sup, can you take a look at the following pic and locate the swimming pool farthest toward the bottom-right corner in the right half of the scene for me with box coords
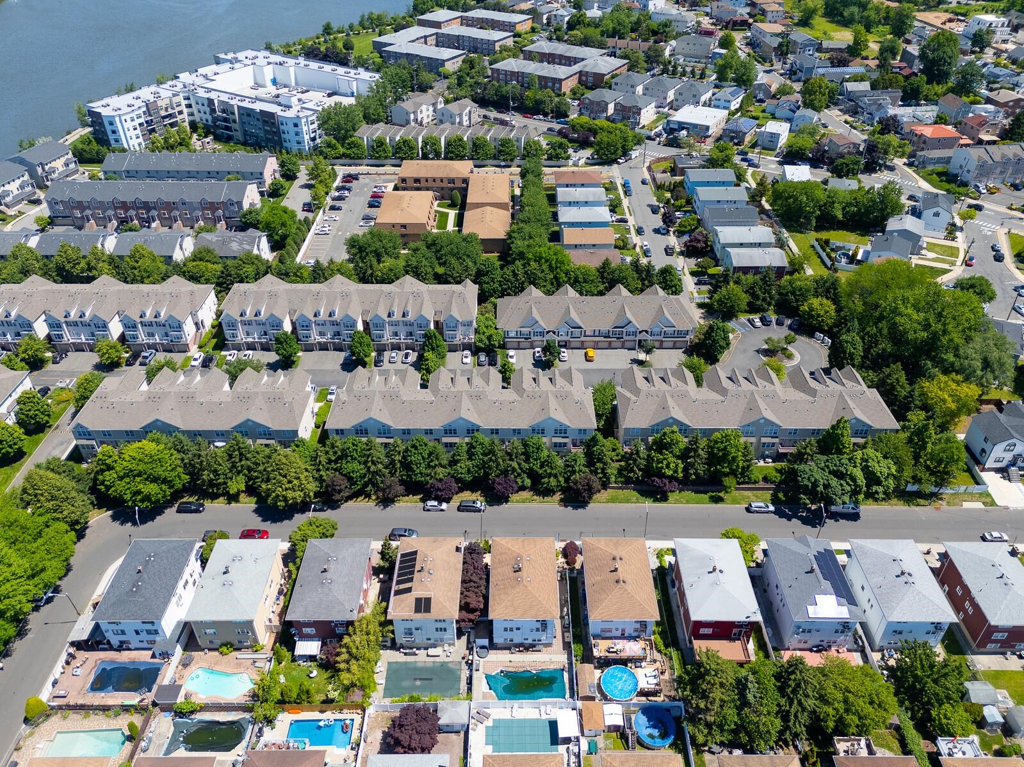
[630,705,681,753]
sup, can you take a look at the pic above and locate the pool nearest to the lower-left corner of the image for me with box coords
[37,726,129,762]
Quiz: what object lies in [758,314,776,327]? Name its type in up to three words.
vehicle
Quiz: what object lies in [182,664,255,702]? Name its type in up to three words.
swimming pool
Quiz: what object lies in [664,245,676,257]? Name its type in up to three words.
vehicle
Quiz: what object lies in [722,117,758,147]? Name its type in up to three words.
house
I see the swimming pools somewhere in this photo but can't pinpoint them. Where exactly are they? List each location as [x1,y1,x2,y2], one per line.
[483,715,563,757]
[37,726,129,762]
[162,715,254,757]
[283,717,357,750]
[83,659,167,696]
[482,668,571,699]
[630,705,681,753]
[381,660,463,700]
[182,664,255,702]
[598,663,641,707]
